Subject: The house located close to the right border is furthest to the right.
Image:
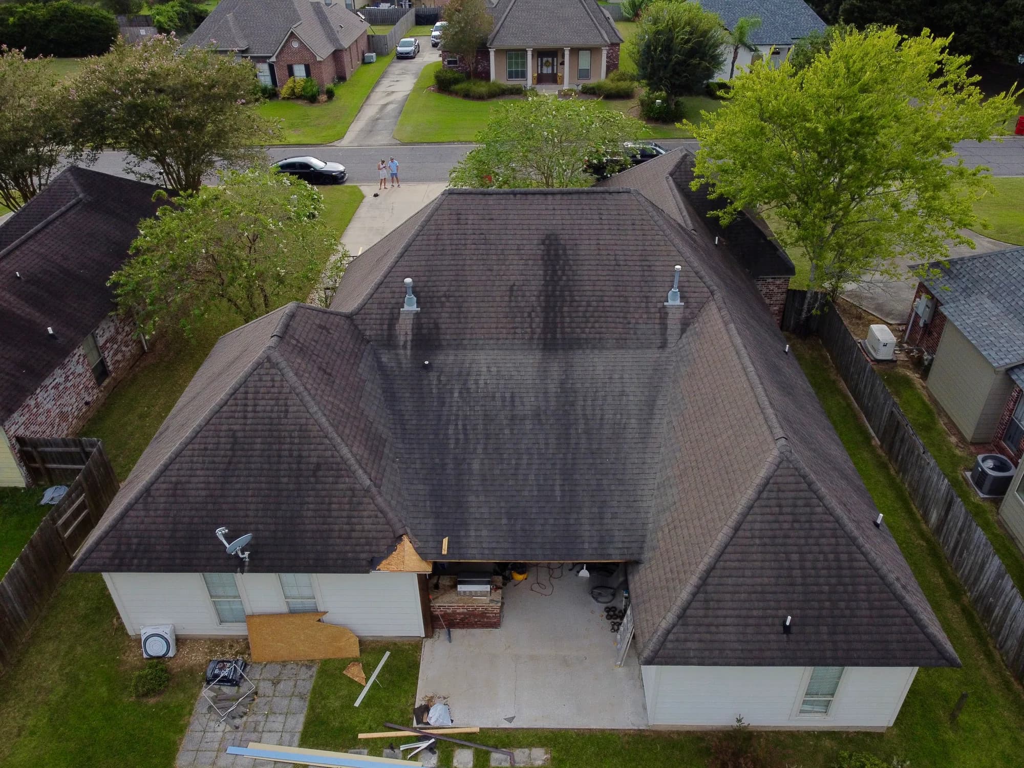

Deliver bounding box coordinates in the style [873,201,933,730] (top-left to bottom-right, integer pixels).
[893,261,1024,554]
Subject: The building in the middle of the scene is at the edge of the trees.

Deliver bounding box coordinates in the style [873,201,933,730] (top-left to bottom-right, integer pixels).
[73,147,963,731]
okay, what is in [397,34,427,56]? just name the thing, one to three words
car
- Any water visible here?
No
